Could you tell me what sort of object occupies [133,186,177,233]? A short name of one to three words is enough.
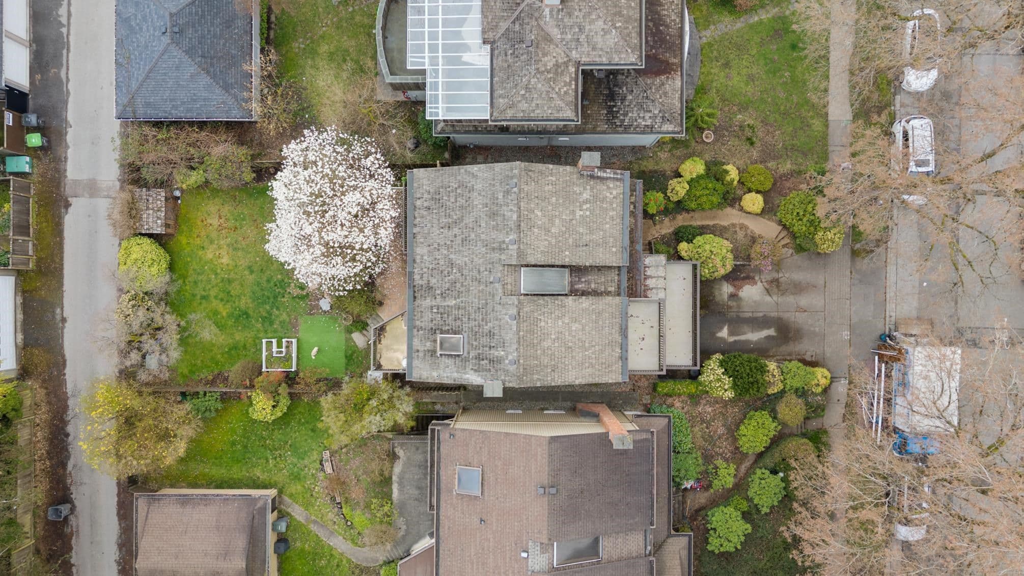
shed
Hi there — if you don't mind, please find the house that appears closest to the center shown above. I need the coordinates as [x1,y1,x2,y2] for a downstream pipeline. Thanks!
[406,151,643,397]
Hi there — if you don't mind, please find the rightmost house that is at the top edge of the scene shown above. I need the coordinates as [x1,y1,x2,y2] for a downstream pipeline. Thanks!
[432,0,689,148]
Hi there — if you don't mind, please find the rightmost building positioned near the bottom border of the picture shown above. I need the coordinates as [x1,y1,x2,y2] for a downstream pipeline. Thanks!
[434,403,692,576]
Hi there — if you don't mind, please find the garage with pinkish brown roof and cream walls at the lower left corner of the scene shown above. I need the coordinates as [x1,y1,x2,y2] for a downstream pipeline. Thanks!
[133,489,278,576]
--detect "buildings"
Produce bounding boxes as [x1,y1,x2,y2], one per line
[0,270,18,381]
[113,0,267,127]
[133,489,278,576]
[406,151,643,397]
[432,0,689,148]
[0,0,30,91]
[434,403,692,576]
[133,186,177,233]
